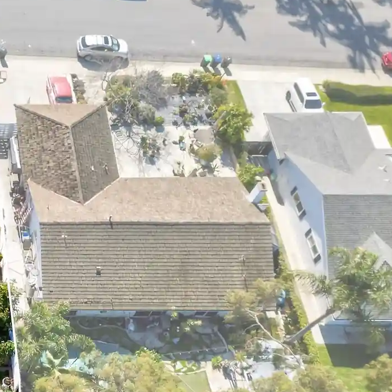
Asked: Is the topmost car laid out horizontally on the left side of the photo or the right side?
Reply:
left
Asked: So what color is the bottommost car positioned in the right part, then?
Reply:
white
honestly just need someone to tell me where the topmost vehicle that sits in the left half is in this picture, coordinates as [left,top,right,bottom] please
[76,35,132,64]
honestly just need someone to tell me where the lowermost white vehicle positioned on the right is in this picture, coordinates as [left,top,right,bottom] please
[291,65,333,112]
